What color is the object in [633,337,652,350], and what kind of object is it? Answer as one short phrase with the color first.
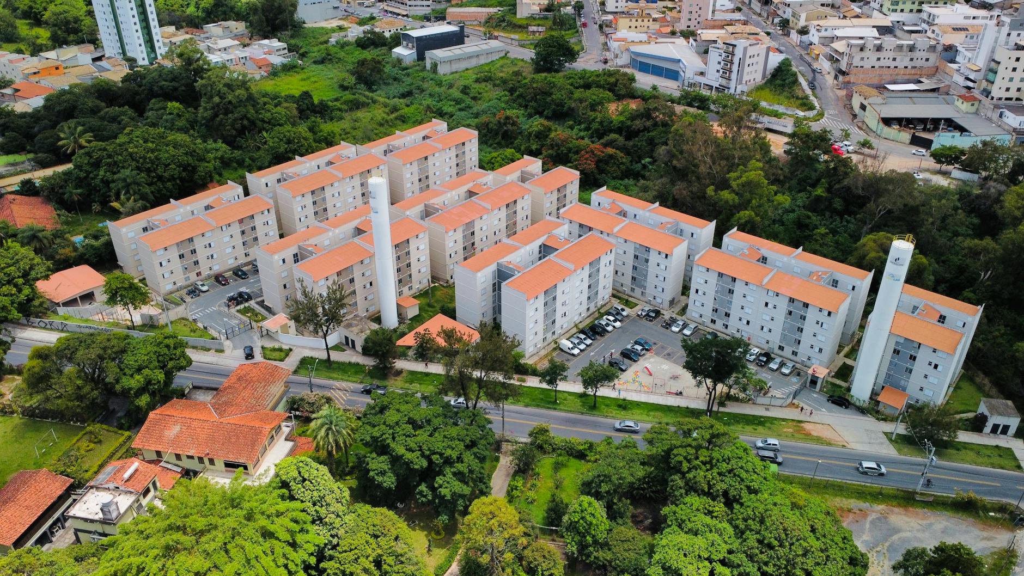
blue vehicle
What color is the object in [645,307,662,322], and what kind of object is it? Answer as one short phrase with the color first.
black car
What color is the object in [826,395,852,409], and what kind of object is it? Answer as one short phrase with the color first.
black car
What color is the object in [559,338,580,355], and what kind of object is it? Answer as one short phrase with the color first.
white vehicle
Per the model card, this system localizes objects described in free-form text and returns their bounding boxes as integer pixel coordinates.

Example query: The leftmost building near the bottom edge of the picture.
[0,465,81,554]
